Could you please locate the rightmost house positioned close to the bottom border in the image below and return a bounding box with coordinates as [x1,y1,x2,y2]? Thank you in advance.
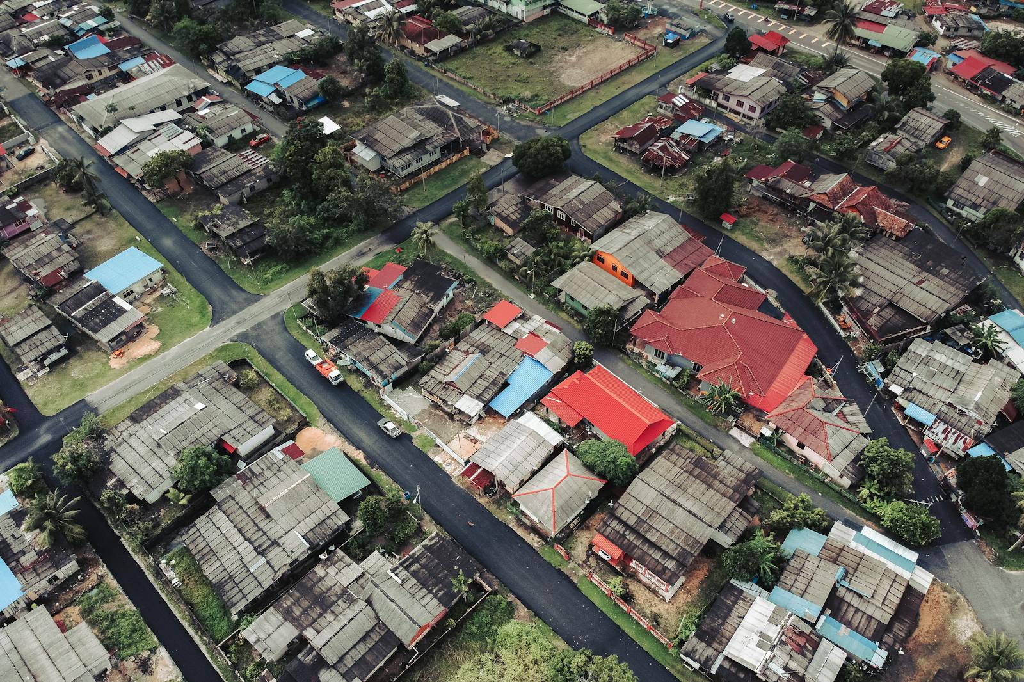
[768,521,933,669]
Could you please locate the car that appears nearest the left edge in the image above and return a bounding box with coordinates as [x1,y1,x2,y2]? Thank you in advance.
[14,145,34,157]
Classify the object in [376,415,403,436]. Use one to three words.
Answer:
car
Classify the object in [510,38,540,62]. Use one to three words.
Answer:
shed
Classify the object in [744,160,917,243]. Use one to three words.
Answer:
house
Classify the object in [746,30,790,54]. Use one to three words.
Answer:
building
